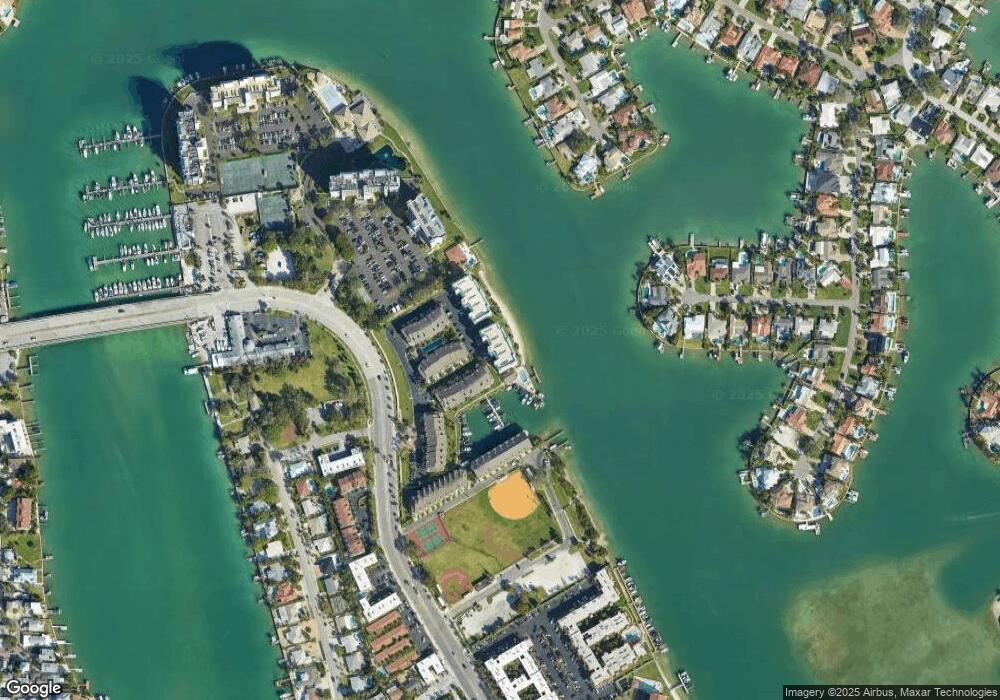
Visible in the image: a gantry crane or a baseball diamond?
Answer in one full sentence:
The one in the frame is a baseball diamond.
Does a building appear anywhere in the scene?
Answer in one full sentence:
Yes, the frame does contain a building.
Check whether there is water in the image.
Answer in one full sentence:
Yes, the picture does contain water.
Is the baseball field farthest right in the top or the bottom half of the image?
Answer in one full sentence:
You can find the baseball field farthest right in the bottom half.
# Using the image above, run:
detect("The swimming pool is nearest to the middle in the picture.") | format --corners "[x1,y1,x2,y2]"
[517,368,532,386]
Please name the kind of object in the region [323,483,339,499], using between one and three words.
swimming pool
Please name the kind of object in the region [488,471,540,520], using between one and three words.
baseball field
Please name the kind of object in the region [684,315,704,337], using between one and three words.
house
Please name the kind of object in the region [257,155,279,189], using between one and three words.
tennis court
